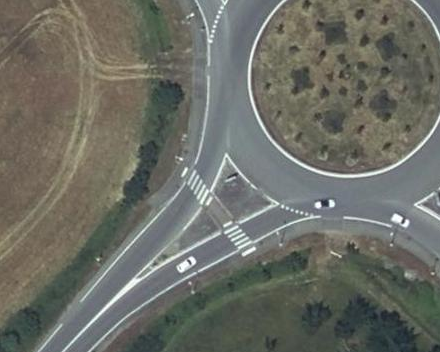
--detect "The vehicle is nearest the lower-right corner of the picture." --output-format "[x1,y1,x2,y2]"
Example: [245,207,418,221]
[390,213,410,227]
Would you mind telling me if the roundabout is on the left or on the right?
right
